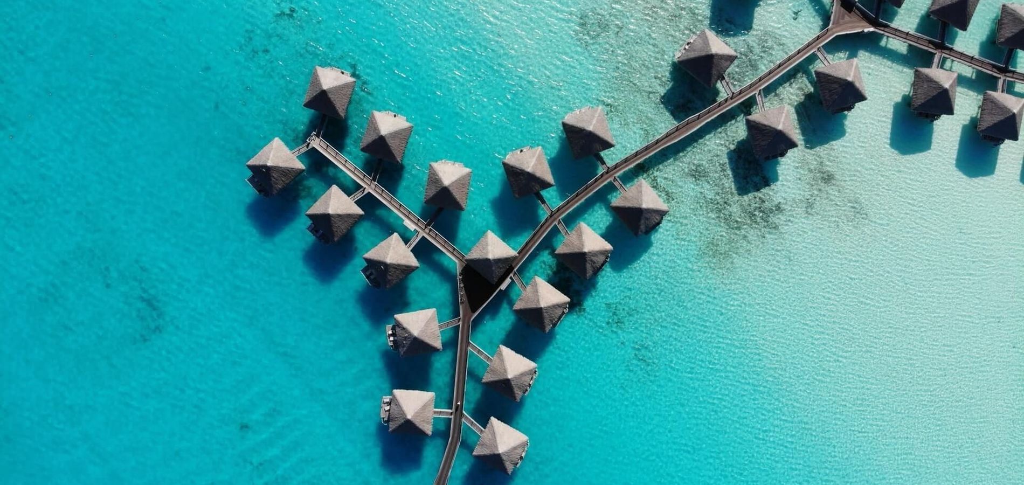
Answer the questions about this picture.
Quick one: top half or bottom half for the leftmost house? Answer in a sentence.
You can find the leftmost house in the top half.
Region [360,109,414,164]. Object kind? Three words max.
house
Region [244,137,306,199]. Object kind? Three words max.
house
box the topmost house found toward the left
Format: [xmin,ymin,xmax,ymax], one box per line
[303,65,356,119]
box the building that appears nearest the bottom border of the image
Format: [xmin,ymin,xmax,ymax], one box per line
[472,418,529,475]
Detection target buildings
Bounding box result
[555,221,614,280]
[926,0,981,30]
[746,105,799,161]
[972,90,1024,145]
[908,68,958,121]
[991,0,1024,49]
[303,65,356,119]
[677,29,737,88]
[386,308,442,357]
[378,389,435,435]
[358,232,420,291]
[244,137,306,199]
[610,178,669,237]
[472,418,529,475]
[502,145,556,200]
[465,230,519,284]
[512,275,570,333]
[562,105,615,160]
[481,345,538,402]
[815,58,868,114]
[304,184,364,246]
[423,159,472,211]
[360,109,414,164]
